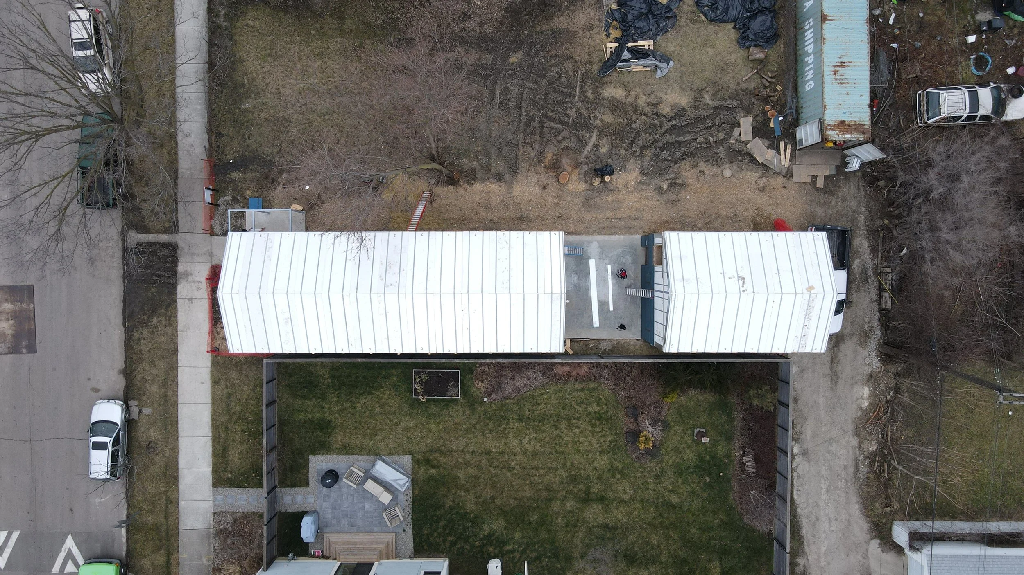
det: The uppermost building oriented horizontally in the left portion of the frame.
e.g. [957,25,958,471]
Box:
[217,231,566,354]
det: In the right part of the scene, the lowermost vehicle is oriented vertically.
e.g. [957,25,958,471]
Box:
[808,221,855,333]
